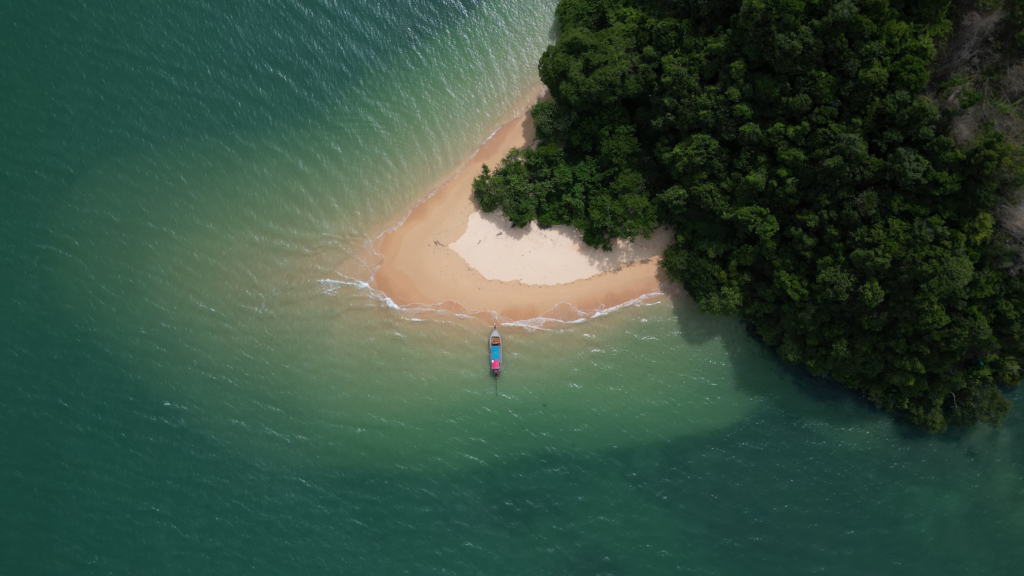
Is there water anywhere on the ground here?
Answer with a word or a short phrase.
Yes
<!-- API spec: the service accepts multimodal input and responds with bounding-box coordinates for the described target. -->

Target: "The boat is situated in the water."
[489,323,502,388]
